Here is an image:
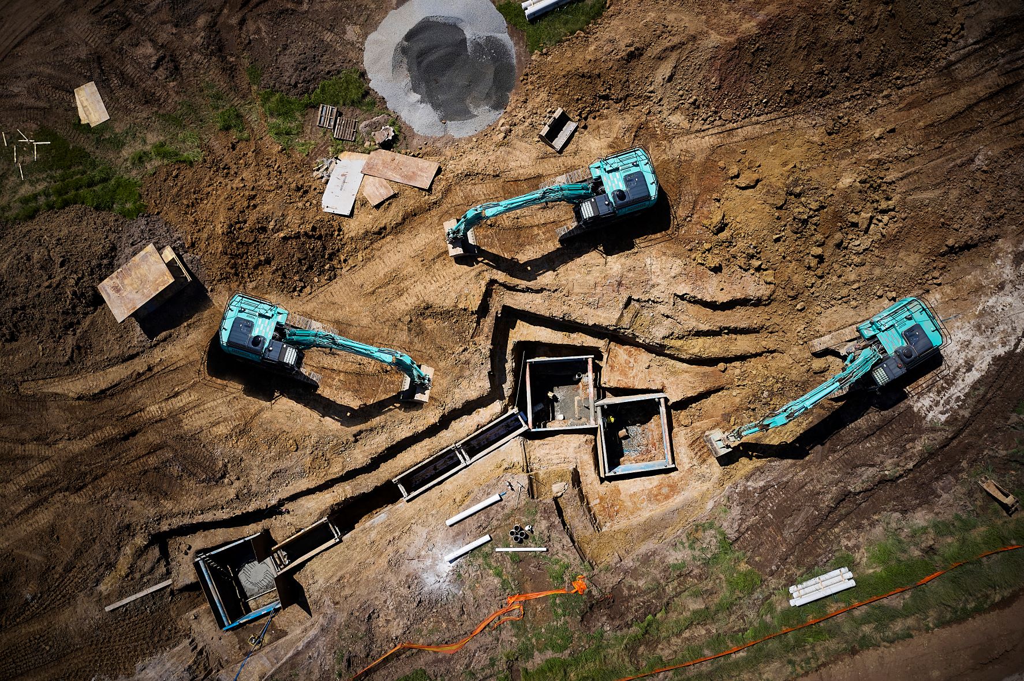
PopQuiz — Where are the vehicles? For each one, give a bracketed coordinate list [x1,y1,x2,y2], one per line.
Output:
[705,302,952,464]
[208,296,438,399]
[442,144,665,258]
